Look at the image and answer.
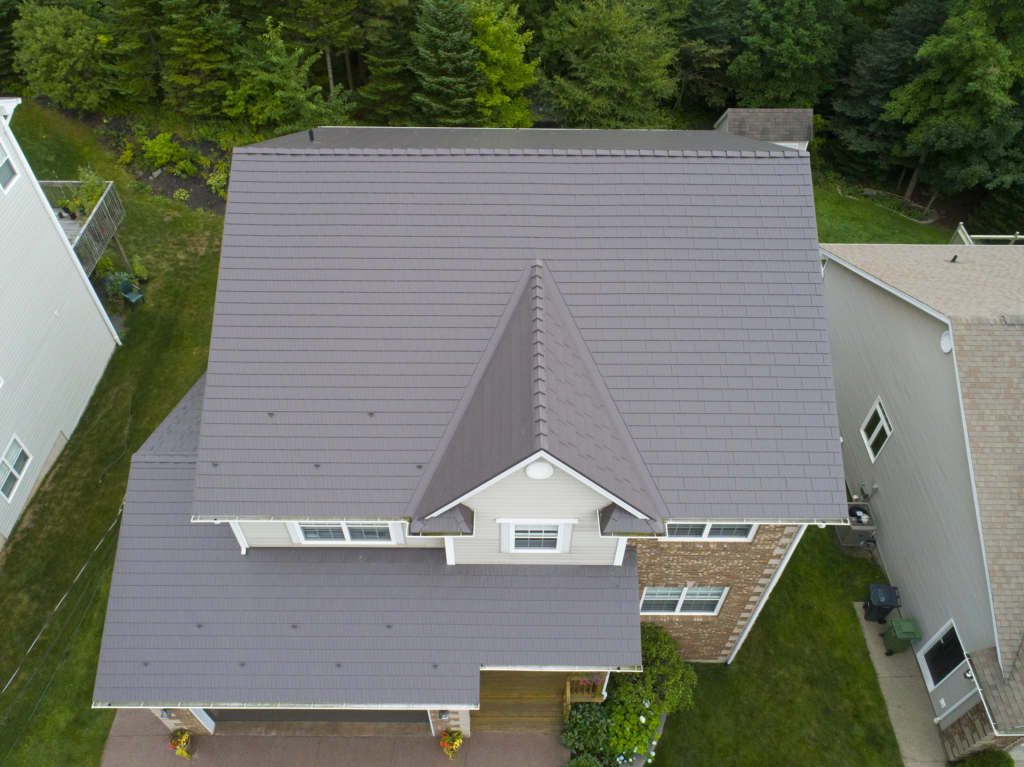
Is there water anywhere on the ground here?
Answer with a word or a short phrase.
No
